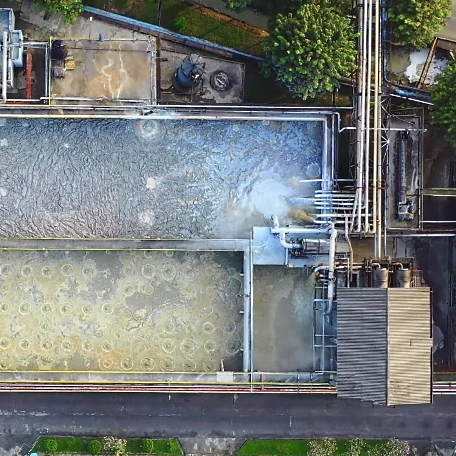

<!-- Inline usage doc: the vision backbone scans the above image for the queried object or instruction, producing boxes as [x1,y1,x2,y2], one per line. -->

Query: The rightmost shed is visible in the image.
[333,288,433,409]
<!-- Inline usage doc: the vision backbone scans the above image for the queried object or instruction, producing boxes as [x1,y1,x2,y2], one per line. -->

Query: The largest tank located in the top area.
[155,60,205,101]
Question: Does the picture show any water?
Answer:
Yes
